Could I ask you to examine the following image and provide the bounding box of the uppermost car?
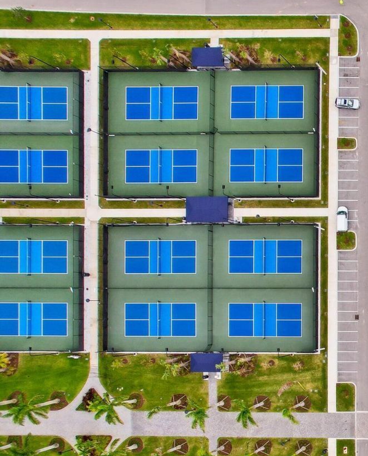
[336,96,360,109]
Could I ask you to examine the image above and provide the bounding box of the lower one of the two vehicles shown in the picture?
[335,207,348,232]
